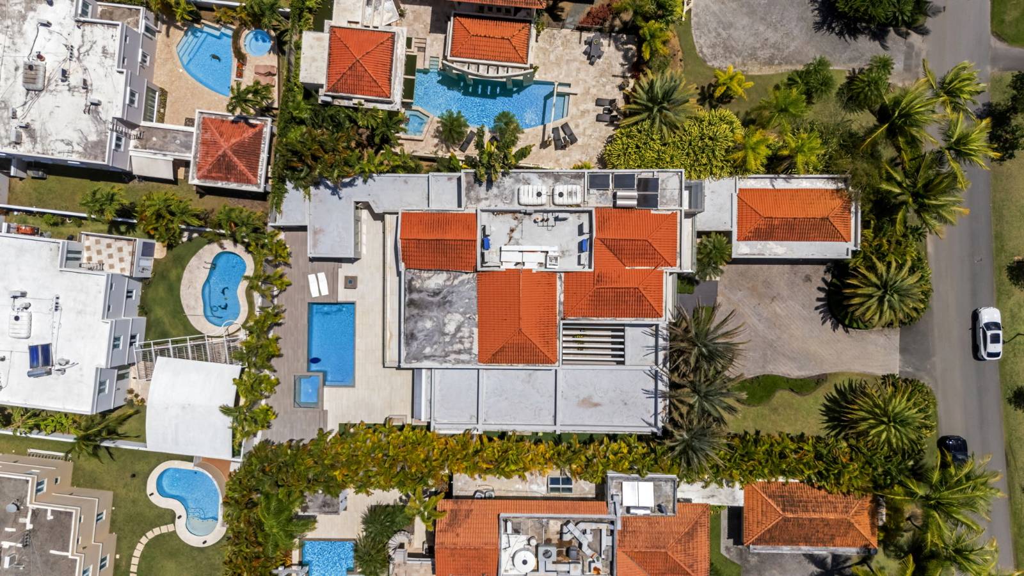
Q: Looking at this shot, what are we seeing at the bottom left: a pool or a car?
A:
pool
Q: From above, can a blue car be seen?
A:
No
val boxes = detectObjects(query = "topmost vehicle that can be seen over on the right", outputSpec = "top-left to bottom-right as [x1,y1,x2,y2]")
[974,306,1004,360]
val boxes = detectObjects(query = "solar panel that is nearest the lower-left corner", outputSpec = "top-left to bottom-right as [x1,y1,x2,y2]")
[29,343,56,369]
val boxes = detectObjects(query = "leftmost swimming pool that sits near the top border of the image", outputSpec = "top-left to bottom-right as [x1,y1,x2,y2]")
[174,23,235,99]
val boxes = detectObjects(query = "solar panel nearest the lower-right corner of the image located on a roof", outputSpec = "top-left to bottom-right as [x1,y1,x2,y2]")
[623,481,654,506]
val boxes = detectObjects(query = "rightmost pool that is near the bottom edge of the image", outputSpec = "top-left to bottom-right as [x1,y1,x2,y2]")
[298,538,357,576]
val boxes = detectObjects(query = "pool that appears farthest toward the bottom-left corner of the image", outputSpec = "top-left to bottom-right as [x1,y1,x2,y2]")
[156,467,219,537]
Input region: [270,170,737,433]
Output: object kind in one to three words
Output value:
house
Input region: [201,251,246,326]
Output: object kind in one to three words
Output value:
swimming pool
